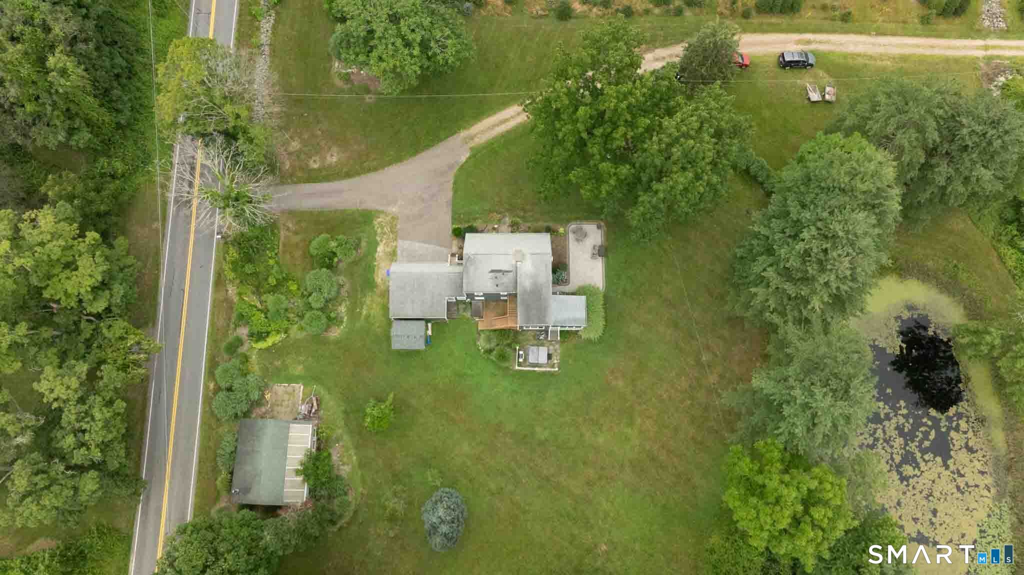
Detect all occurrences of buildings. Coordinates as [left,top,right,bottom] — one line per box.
[230,419,319,506]
[390,321,426,350]
[389,232,587,331]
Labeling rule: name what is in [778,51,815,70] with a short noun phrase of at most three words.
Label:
car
